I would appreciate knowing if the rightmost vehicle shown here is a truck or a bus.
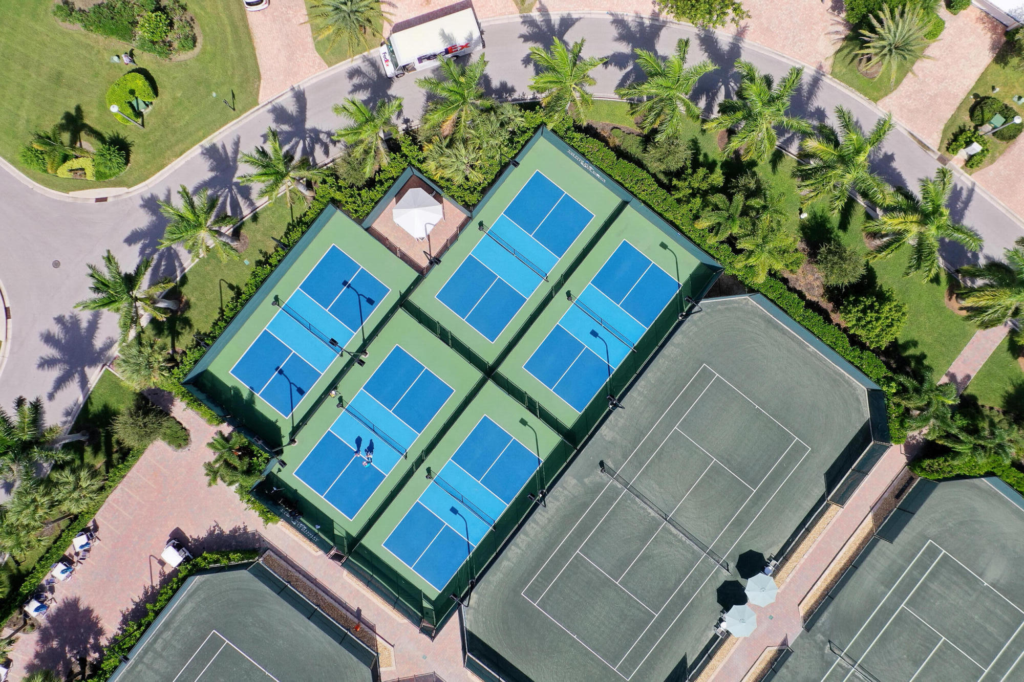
truck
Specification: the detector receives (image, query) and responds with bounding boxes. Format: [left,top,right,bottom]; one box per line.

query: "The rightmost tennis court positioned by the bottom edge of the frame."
[769,477,1024,682]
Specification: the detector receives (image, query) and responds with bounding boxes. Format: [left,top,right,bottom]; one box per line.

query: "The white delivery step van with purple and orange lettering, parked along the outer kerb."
[379,10,483,77]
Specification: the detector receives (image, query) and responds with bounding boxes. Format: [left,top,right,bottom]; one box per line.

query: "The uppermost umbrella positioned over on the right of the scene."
[740,568,781,610]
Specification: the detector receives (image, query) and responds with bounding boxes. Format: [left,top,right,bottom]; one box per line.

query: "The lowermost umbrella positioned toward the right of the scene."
[720,601,759,640]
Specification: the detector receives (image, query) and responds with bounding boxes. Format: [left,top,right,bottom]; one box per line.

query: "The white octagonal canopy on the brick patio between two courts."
[393,188,444,242]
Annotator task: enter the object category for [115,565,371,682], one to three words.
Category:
tennis court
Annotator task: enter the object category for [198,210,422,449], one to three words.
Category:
sports court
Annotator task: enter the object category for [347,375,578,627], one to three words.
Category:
sports court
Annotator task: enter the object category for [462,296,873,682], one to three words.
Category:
tennis court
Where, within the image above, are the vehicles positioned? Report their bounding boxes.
[379,10,483,77]
[158,539,192,571]
[244,0,268,12]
